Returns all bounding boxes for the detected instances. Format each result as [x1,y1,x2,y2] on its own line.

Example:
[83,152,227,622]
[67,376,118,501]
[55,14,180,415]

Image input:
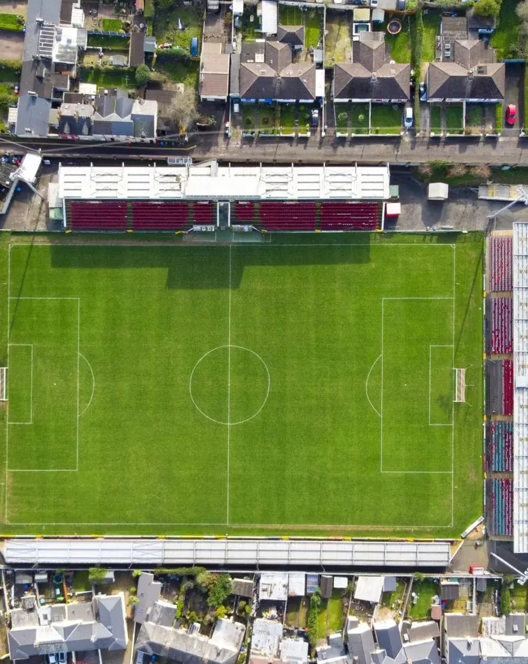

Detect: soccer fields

[0,231,485,538]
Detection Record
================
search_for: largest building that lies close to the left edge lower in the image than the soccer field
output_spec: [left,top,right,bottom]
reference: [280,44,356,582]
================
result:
[8,591,129,661]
